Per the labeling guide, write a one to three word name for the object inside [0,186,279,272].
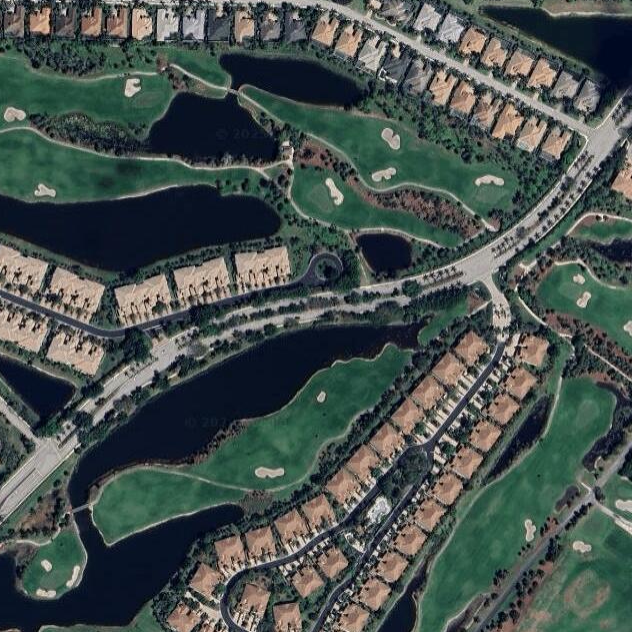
pond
